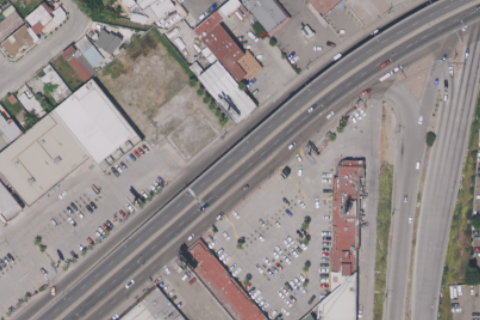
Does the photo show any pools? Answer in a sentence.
No, I can see no pool in this picture.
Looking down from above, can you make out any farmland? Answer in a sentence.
No, the picture contains no farmland.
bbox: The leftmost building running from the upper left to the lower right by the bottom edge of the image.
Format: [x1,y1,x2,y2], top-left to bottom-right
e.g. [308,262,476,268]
[186,238,268,320]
